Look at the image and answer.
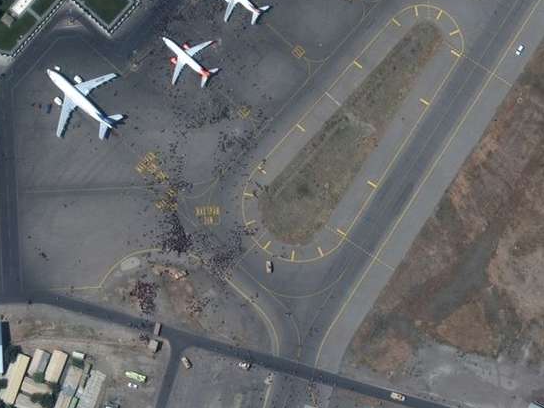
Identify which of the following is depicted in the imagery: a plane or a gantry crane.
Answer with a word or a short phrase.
plane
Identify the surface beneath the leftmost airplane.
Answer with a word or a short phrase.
apron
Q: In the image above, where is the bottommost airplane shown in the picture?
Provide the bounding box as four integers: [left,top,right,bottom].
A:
[47,69,126,139]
